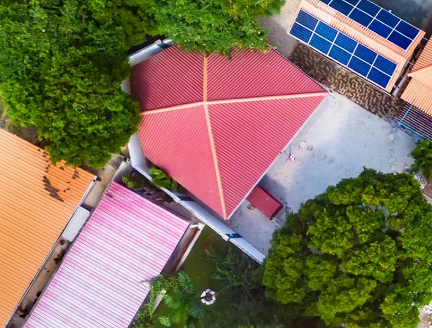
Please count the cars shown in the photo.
0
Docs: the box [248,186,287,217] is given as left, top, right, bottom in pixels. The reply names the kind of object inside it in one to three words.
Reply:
shed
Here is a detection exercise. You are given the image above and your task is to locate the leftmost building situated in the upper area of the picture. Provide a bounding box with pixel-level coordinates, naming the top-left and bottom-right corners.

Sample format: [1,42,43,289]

[133,29,331,221]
